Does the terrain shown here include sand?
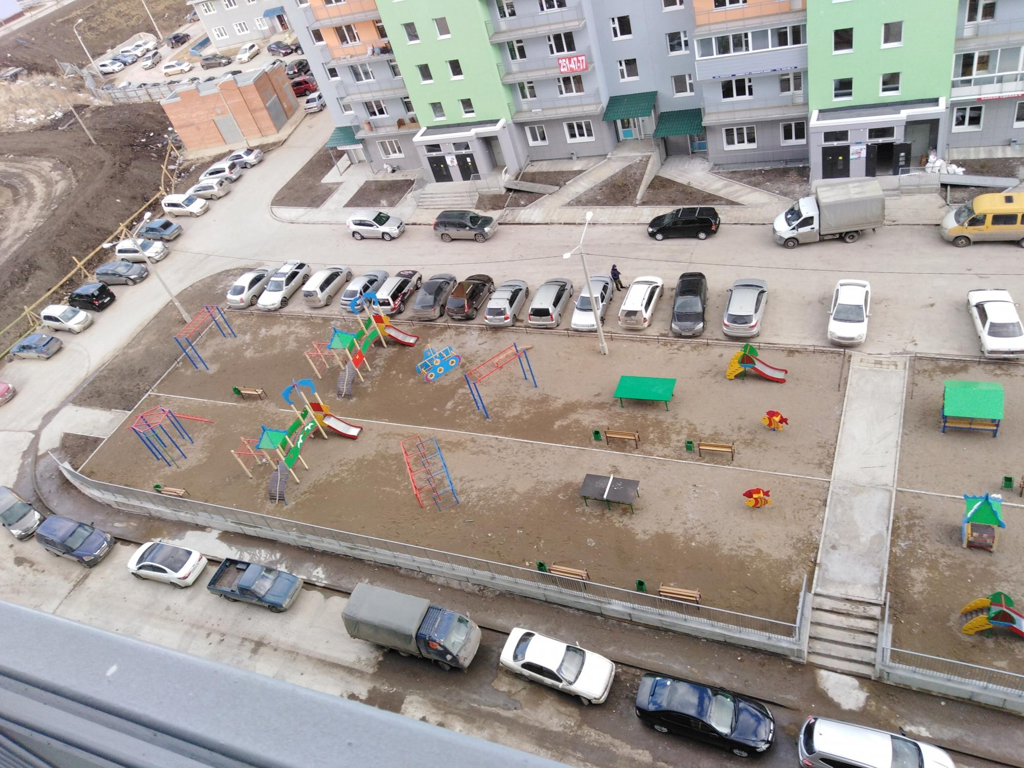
Yes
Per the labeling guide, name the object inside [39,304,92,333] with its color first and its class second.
white car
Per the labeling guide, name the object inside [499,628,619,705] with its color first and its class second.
white car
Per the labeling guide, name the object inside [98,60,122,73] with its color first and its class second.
white vehicle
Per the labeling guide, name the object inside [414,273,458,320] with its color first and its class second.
gray car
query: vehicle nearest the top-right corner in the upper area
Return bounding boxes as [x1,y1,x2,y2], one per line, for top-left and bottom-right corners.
[940,188,1024,246]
